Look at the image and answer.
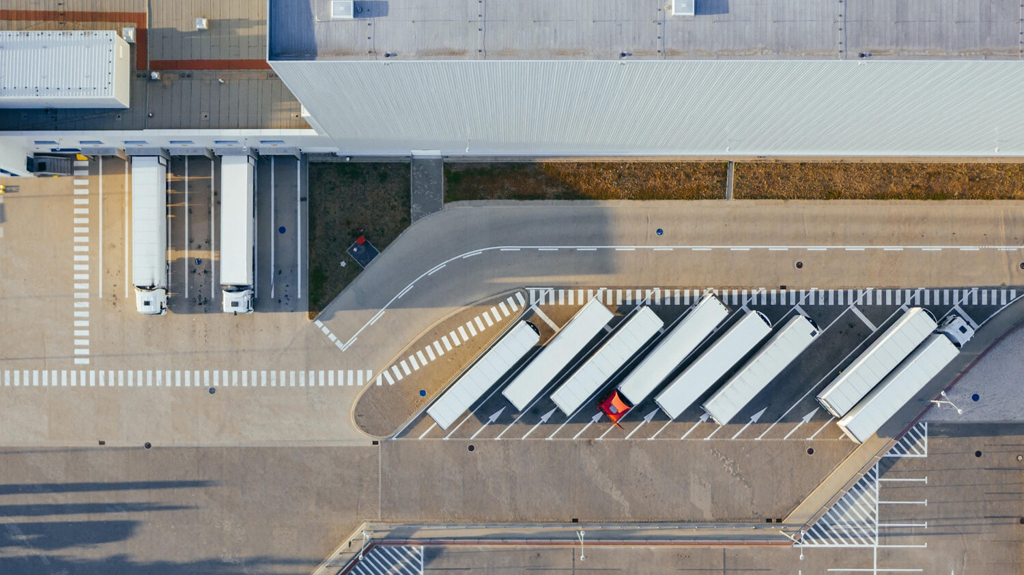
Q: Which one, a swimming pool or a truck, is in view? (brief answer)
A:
truck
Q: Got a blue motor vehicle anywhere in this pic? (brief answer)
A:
No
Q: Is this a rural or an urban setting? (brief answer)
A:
urban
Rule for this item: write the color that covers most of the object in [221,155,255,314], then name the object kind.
white truck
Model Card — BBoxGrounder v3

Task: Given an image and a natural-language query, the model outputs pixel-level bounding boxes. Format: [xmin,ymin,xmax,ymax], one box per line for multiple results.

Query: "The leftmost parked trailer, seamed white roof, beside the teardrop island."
[428,320,540,429]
